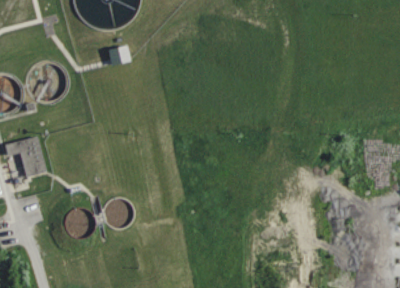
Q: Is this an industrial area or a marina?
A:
industrial area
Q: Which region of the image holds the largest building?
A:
left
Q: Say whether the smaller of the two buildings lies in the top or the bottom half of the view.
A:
top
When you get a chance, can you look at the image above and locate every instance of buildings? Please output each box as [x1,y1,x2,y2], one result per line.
[104,44,131,66]
[4,136,46,178]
